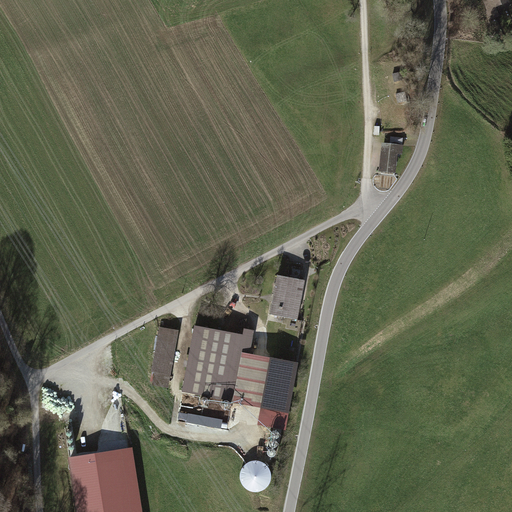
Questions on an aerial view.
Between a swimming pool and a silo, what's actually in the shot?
silo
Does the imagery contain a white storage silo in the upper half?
No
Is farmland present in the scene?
Yes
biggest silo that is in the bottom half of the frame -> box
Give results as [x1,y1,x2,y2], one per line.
[240,460,271,492]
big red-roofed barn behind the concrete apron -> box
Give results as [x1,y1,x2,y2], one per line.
[70,448,142,512]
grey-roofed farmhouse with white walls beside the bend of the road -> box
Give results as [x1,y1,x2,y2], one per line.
[270,276,304,321]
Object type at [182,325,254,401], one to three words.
barn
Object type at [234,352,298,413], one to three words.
barn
